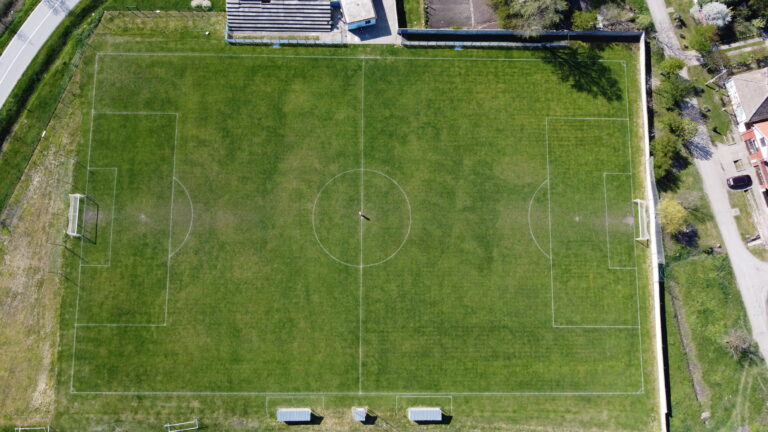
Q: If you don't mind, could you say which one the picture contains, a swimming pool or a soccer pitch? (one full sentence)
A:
I can see a soccer pitch in this picture.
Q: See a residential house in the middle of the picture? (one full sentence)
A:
No, I can find no residential house in the middle of the picture.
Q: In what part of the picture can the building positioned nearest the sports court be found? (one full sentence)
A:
The building positioned nearest the sports court is located in the top region of the scene.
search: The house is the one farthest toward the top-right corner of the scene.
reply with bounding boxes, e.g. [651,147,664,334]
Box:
[725,74,768,128]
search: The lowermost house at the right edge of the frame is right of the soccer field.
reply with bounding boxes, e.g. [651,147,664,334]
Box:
[733,122,768,189]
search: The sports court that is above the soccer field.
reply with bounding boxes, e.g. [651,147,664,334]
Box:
[430,0,499,28]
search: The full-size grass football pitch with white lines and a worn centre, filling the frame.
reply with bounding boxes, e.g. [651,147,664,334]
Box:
[68,52,645,416]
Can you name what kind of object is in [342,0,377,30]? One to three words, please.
building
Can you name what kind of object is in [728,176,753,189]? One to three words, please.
vehicle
